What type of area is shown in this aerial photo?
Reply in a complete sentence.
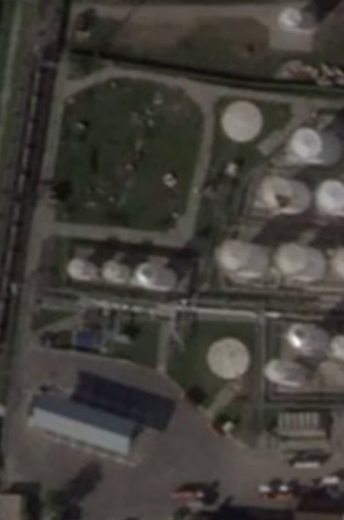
The picture captures an industrial area.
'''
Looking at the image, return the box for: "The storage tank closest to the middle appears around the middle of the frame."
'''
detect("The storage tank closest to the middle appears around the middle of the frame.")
[133,262,179,294]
